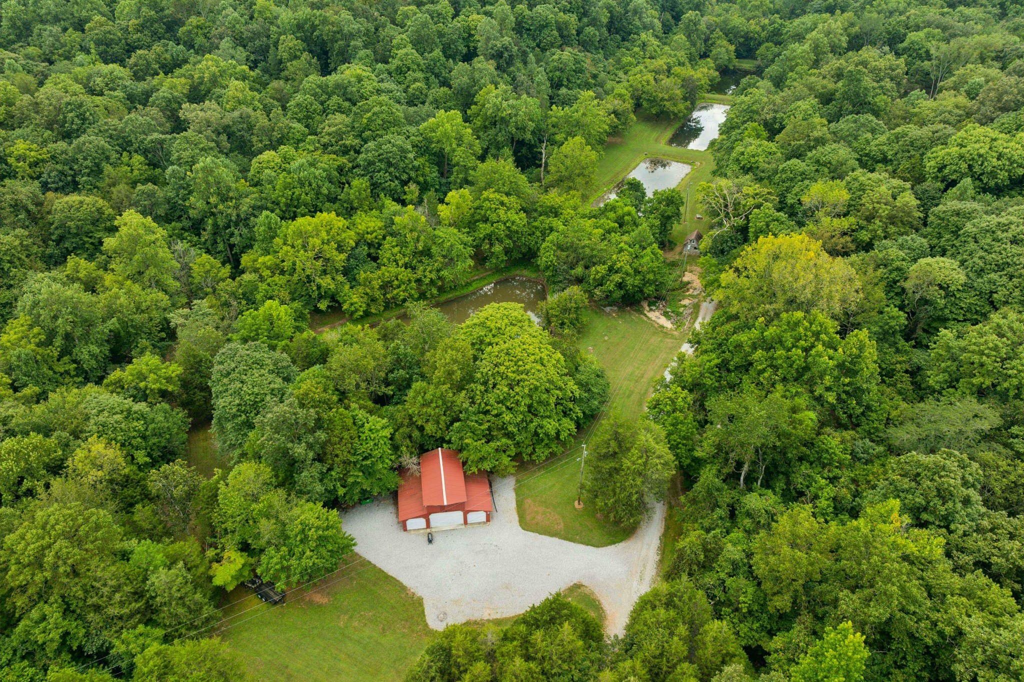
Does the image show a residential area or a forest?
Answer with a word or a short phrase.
forest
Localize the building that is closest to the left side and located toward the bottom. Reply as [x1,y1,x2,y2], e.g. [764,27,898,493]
[397,441,493,535]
